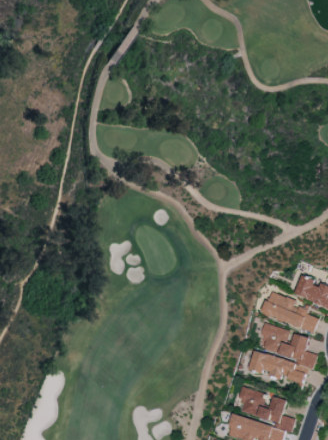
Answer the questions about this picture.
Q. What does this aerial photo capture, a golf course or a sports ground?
golf course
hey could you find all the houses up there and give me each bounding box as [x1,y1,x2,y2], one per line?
[248,348,310,387]
[259,322,319,368]
[238,386,297,431]
[228,414,286,440]
[260,290,320,332]
[298,270,328,302]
